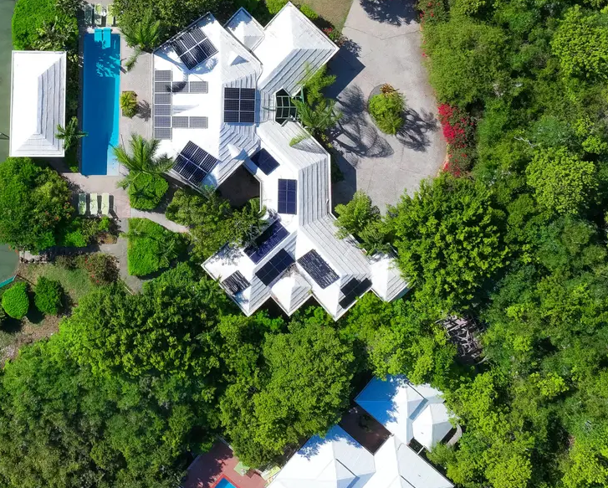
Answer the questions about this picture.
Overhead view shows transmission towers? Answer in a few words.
No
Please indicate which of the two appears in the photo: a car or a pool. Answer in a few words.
pool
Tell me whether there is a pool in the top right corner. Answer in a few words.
No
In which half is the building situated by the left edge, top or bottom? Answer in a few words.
top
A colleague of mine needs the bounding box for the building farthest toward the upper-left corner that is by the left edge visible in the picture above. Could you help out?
[8,49,69,159]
